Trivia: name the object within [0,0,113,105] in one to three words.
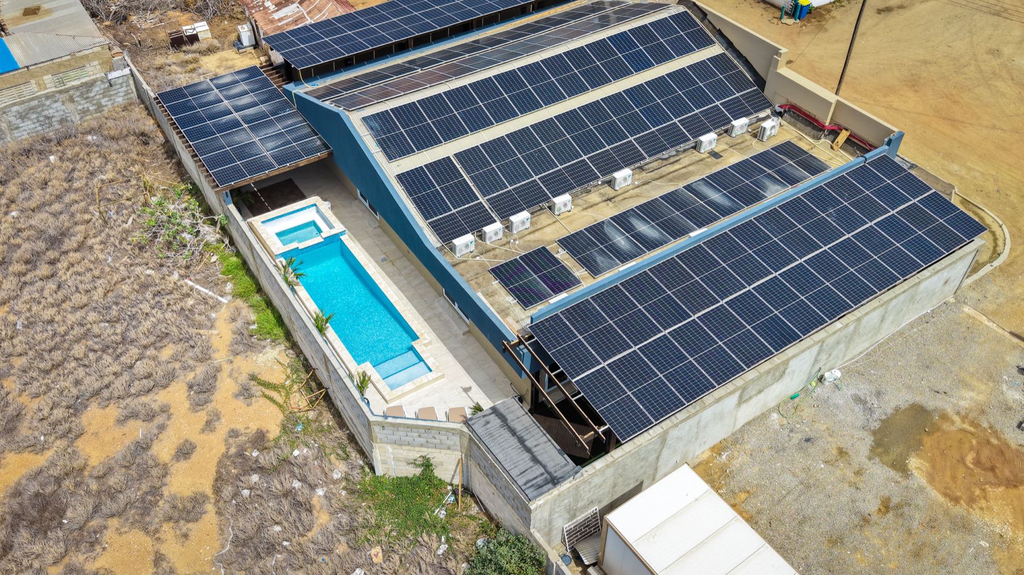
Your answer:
house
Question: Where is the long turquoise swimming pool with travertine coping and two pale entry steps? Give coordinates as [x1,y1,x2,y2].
[276,233,444,405]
